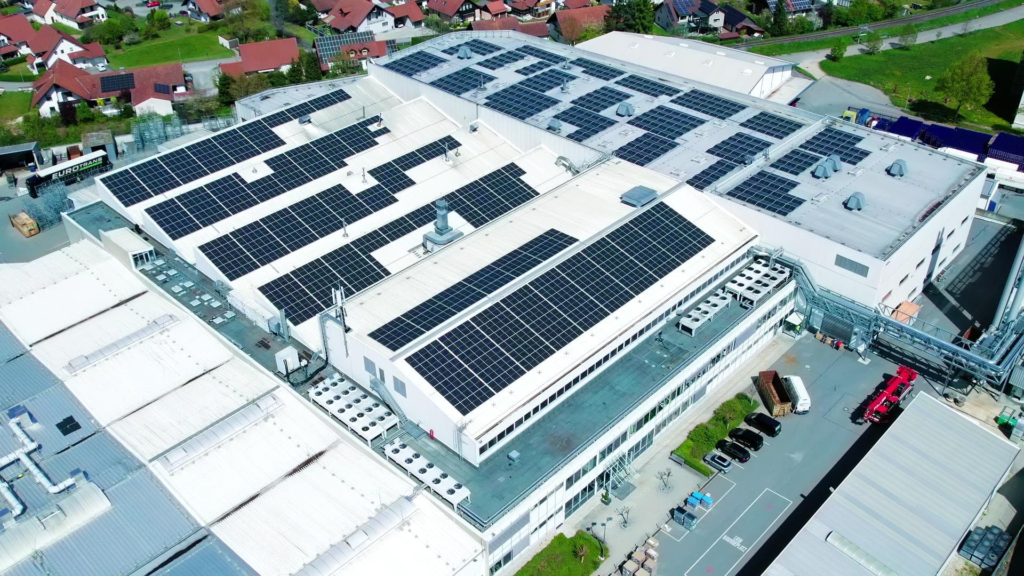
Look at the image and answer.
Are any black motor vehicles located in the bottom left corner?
No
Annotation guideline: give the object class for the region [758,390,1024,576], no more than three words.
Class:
warehouse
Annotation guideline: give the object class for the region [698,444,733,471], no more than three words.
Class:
car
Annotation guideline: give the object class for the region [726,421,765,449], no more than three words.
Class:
car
